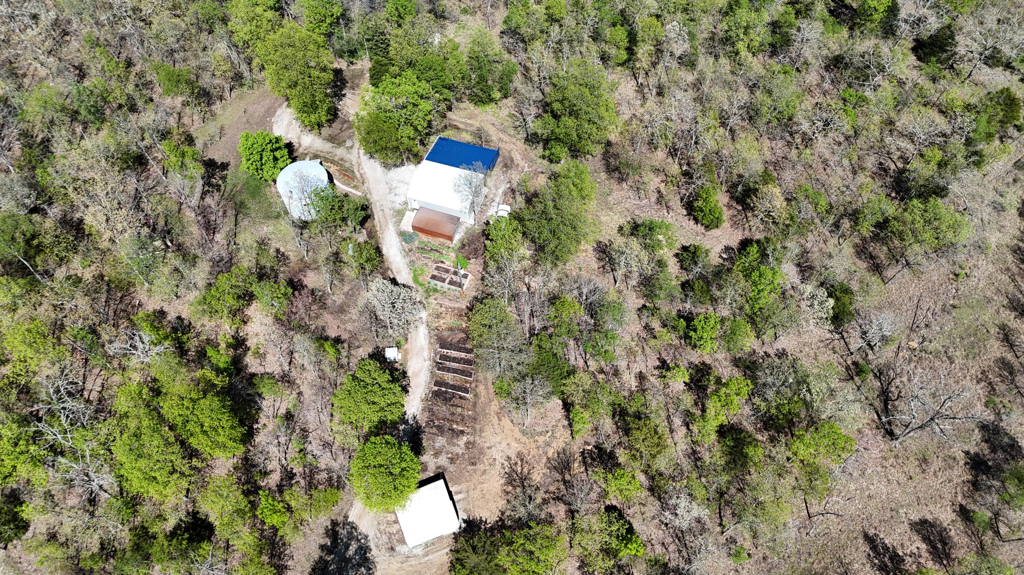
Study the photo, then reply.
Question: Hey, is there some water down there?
No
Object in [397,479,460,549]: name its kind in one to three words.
building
